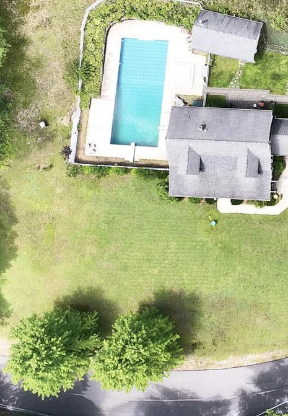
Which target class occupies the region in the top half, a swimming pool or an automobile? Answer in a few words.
swimming pool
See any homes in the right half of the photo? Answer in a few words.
Yes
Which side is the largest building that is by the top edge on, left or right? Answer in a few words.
right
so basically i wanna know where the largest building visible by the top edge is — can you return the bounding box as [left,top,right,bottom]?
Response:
[192,9,264,64]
